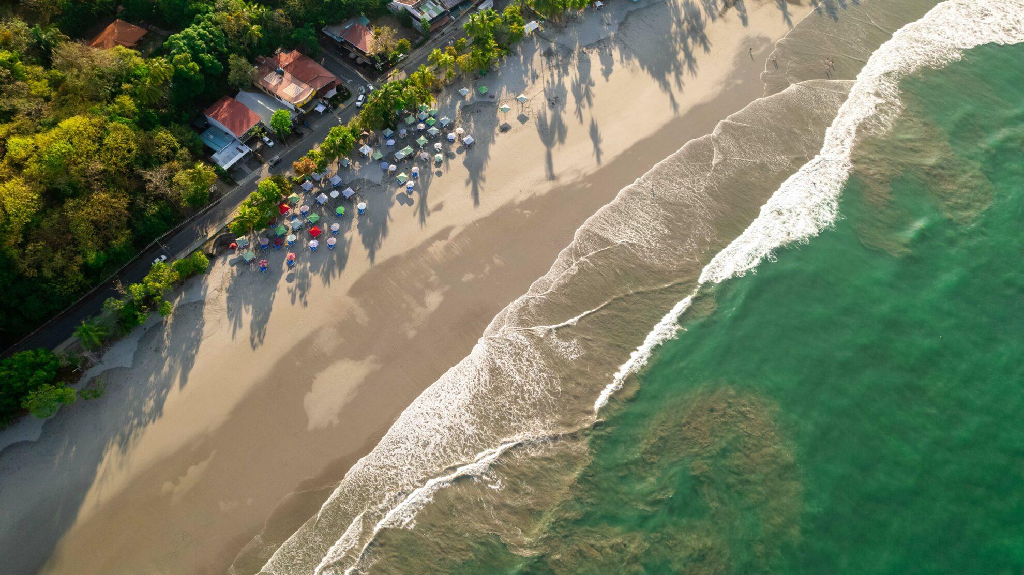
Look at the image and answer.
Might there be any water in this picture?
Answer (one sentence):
Yes, some water is visible.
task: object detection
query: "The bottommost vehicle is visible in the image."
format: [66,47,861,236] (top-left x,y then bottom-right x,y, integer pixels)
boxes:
[150,253,169,267]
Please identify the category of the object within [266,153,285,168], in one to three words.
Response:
vehicle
